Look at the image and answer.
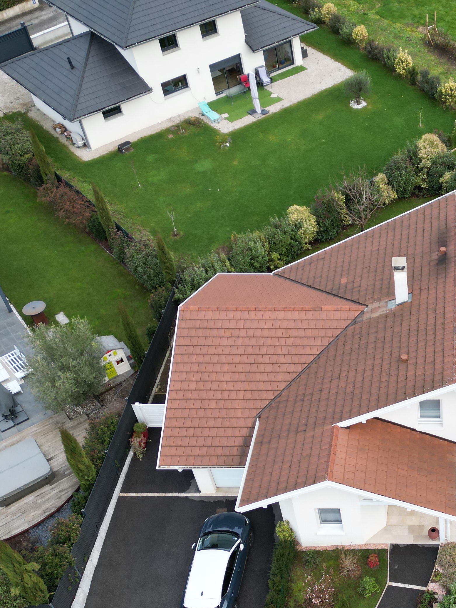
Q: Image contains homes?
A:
Yes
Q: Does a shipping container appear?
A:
No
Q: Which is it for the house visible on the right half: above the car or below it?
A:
above it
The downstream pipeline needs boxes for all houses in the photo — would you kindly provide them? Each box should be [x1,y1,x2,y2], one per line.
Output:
[0,0,321,149]
[155,189,456,544]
